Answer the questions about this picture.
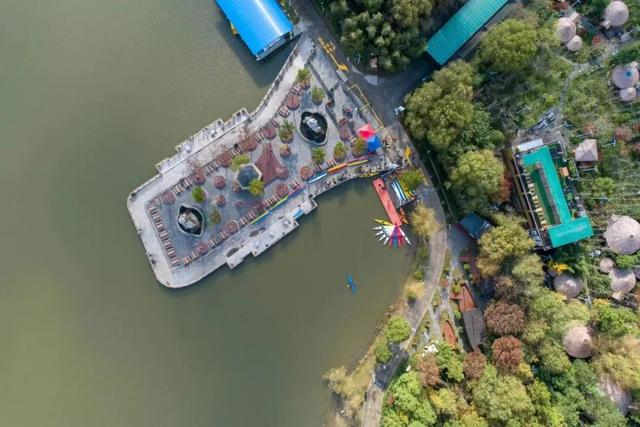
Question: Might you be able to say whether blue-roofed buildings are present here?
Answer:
Yes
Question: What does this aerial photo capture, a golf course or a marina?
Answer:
marina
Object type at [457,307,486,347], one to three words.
house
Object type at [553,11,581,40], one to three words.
shed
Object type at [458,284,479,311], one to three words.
house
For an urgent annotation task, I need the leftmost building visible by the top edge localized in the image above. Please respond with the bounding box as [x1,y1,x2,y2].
[216,0,299,69]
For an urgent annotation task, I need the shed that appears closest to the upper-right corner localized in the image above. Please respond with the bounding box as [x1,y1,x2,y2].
[592,2,626,34]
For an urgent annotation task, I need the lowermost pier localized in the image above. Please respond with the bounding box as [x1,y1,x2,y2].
[371,177,402,226]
